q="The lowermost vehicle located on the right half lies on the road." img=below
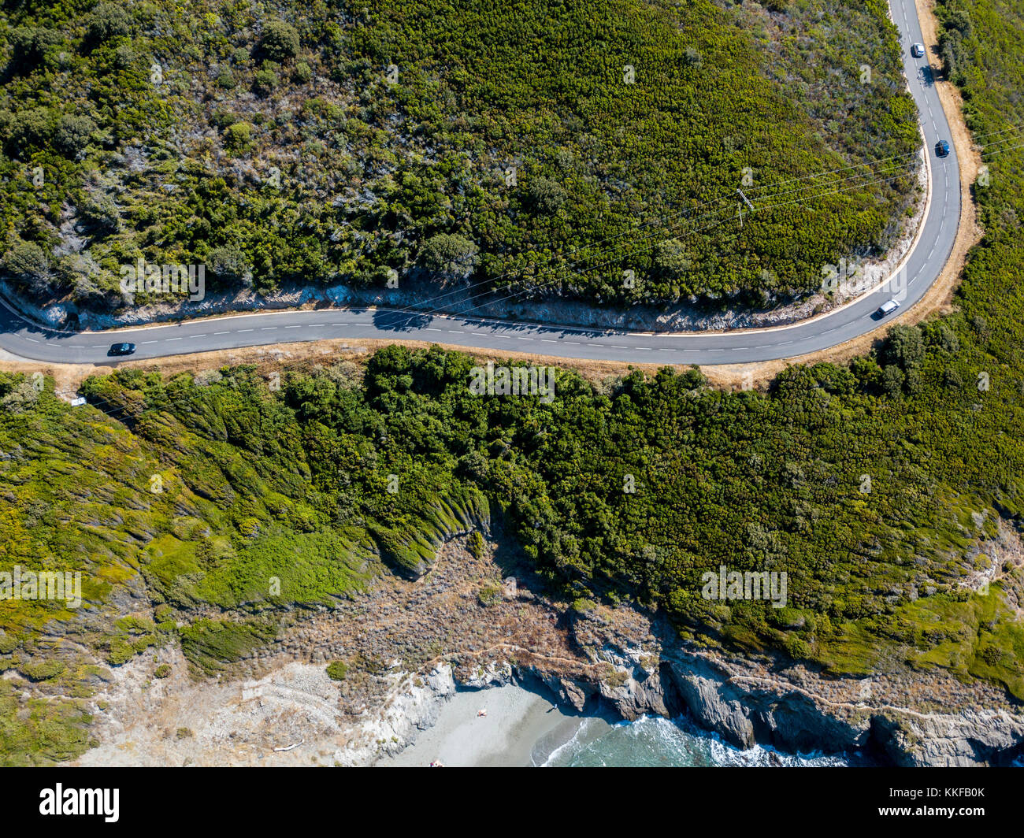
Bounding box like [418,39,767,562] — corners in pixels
[877,300,899,316]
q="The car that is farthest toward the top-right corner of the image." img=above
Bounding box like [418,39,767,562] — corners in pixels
[913,43,925,58]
